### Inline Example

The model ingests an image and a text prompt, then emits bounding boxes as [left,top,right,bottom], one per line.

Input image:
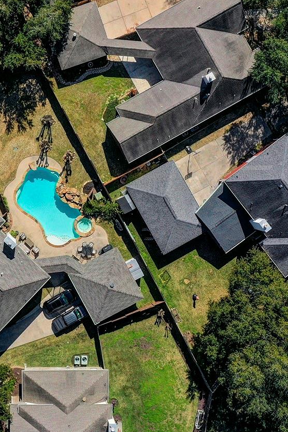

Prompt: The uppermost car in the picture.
[41,288,78,314]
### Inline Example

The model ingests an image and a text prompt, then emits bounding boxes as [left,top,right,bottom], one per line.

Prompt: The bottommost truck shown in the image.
[50,305,90,335]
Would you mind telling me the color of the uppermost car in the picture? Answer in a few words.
black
